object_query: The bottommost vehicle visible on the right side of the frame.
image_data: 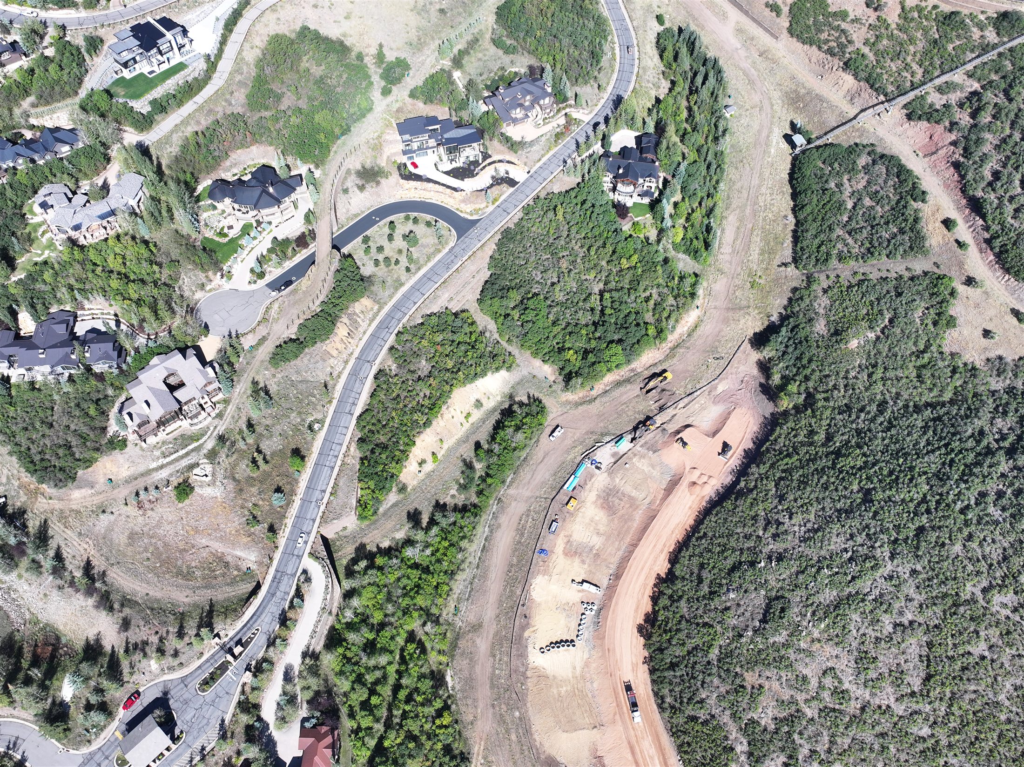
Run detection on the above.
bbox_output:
[624,683,642,723]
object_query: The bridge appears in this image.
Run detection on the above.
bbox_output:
[311,196,340,270]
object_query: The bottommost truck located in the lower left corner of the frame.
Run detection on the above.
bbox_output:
[120,691,141,713]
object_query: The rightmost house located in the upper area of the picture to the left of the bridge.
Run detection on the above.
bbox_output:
[208,165,311,229]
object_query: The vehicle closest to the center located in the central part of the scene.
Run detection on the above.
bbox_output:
[549,425,565,441]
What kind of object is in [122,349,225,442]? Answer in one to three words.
house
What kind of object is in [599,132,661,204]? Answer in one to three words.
house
